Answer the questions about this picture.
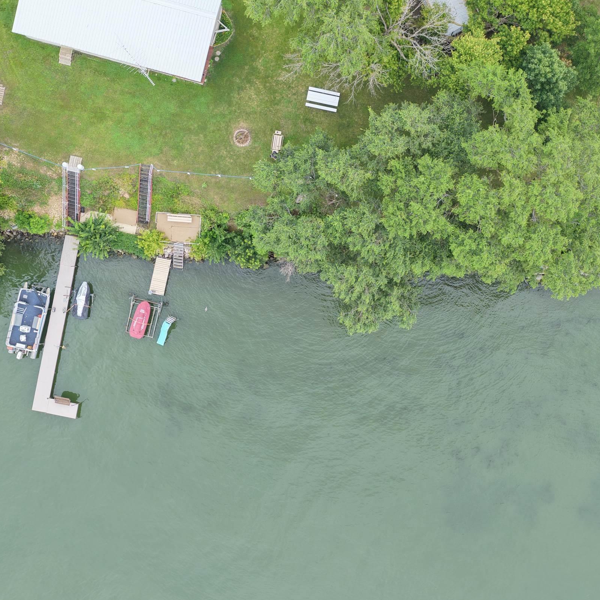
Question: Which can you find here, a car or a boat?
boat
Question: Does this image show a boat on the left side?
Yes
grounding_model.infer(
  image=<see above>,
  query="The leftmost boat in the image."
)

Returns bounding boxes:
[4,281,53,358]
